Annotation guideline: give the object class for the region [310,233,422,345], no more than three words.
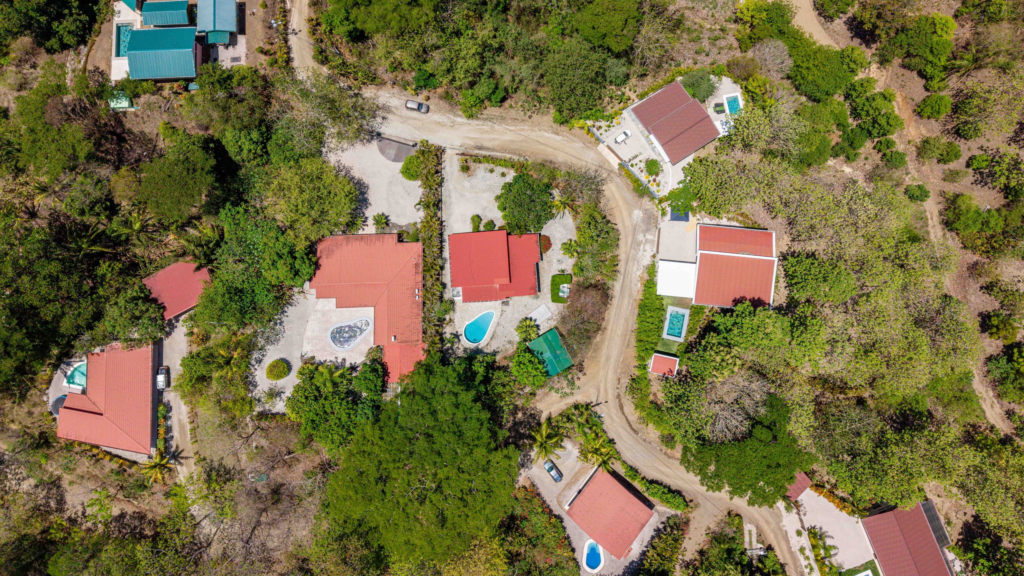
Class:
house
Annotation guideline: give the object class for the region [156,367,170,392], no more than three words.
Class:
car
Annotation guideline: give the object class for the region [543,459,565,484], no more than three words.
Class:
vehicle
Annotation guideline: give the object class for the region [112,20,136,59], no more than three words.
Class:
swimming pool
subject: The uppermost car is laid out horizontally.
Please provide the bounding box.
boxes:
[404,101,430,115]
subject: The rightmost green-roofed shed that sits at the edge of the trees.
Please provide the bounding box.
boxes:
[529,328,574,378]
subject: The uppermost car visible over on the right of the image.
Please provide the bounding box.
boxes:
[612,128,633,146]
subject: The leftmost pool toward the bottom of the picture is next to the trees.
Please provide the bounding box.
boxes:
[65,359,87,391]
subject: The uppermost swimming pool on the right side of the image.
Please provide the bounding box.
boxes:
[723,92,744,120]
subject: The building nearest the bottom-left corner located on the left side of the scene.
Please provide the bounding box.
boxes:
[57,341,156,455]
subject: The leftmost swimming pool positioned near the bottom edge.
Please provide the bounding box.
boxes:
[582,538,604,574]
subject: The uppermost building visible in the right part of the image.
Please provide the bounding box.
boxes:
[631,80,721,165]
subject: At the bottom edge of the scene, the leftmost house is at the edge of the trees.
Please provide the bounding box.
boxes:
[563,465,655,561]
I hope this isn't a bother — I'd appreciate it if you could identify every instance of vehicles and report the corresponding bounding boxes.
[156,367,170,392]
[612,128,633,146]
[404,101,430,115]
[543,459,565,484]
